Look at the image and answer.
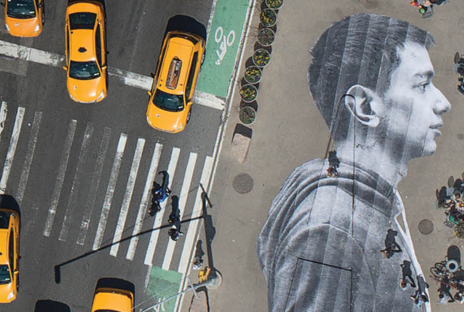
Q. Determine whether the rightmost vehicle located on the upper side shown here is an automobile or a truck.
automobile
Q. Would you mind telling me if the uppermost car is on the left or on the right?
left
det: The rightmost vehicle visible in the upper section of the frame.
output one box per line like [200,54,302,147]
[146,28,206,132]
